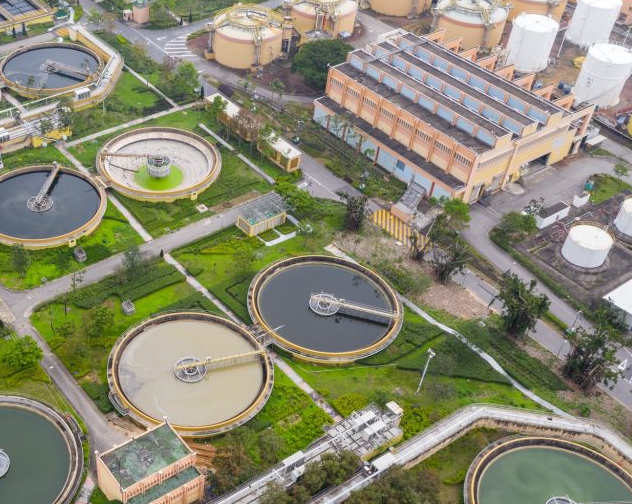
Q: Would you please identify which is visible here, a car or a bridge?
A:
bridge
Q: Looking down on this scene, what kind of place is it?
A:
industrial area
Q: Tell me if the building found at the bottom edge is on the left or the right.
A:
left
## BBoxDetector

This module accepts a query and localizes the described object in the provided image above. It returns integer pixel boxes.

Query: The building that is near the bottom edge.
[95,413,205,504]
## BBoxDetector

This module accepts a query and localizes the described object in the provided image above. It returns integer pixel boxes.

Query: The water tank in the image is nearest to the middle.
[248,253,404,364]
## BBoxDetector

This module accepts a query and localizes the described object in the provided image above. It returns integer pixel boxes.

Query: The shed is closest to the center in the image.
[232,195,288,236]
